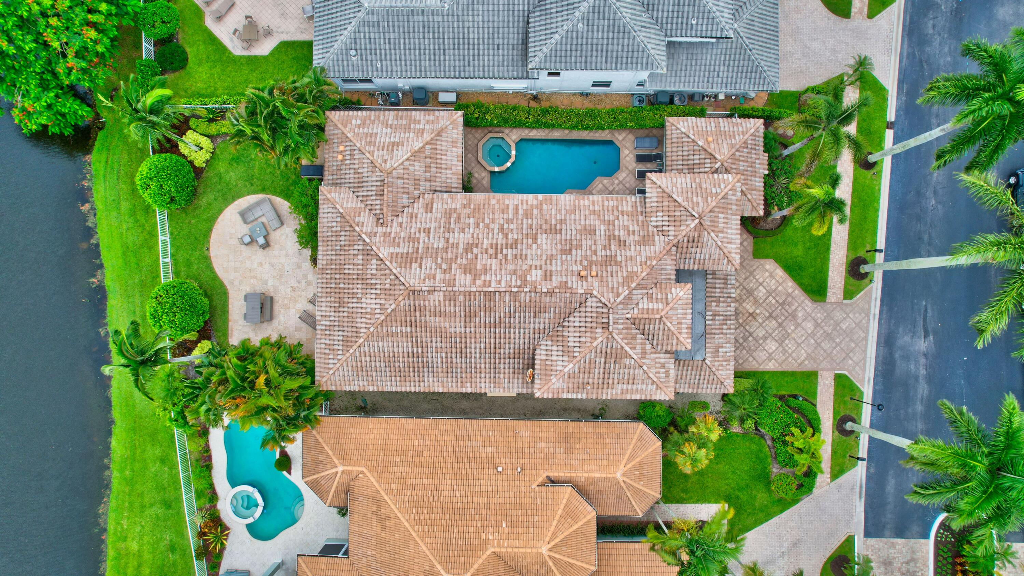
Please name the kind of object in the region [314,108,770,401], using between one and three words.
house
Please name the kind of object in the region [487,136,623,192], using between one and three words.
swimming pool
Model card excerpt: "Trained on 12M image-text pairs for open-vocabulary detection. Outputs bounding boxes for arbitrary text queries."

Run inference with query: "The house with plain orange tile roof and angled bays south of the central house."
[295,414,685,576]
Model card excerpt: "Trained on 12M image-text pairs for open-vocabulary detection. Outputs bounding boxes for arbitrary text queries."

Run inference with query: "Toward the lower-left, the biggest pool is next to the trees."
[221,420,307,543]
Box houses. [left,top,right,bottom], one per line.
[314,108,770,401]
[295,414,685,576]
[311,0,782,99]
